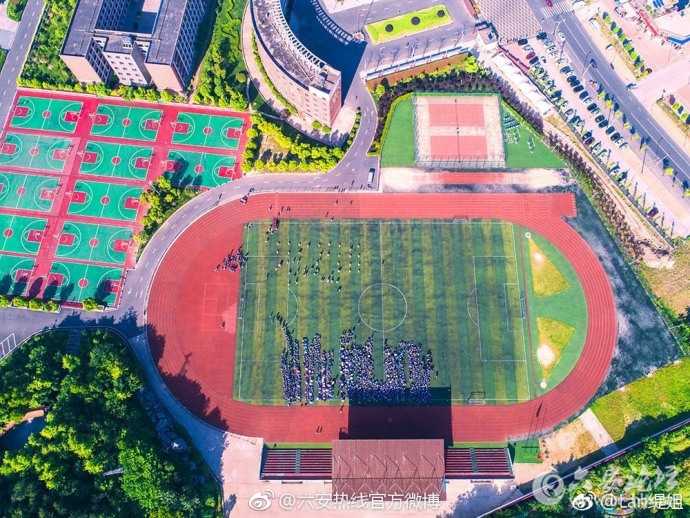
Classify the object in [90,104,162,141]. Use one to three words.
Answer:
basketball court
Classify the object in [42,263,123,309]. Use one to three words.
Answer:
basketball court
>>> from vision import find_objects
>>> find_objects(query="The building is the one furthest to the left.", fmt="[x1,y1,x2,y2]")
[59,0,206,90]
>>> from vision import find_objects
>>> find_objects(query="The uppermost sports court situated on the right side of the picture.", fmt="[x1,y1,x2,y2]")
[429,104,486,126]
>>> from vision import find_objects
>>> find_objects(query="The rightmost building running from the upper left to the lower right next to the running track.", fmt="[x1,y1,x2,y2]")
[251,0,341,127]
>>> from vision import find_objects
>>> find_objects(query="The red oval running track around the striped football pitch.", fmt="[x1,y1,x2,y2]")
[147,193,617,442]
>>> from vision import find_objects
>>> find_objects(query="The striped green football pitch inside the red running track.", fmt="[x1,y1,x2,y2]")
[233,218,535,406]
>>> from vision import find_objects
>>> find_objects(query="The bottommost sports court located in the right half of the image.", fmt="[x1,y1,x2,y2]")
[431,136,488,160]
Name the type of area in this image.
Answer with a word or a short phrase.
sports ground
